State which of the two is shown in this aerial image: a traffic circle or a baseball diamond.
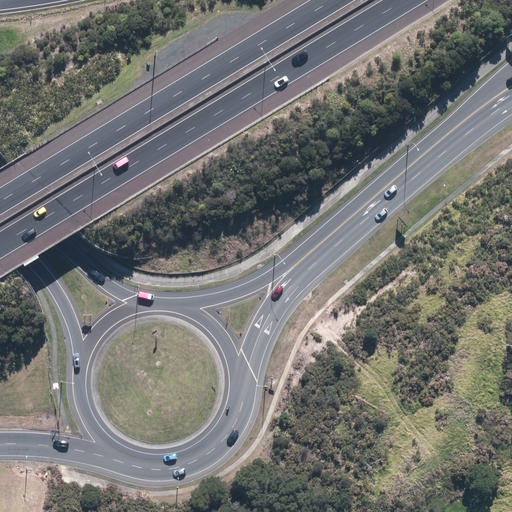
traffic circle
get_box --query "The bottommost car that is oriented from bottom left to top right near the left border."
[20,229,36,241]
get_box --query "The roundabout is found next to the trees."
[69,293,247,471]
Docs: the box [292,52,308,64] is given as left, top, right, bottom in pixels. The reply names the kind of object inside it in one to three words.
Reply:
vehicle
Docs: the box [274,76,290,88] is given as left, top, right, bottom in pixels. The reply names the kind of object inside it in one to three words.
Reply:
vehicle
